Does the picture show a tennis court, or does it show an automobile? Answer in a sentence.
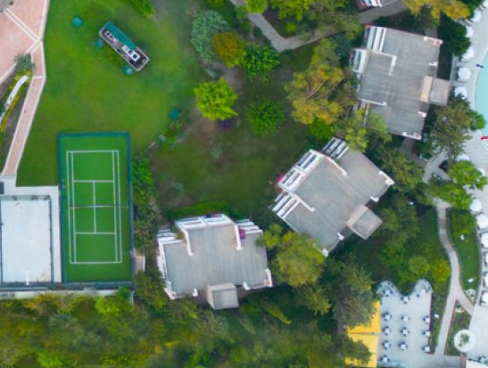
There is a tennis court in the scene.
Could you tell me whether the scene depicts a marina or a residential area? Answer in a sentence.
This looks like a residential area.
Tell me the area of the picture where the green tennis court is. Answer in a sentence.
Look in the left portion of the view to spot the green tennis court.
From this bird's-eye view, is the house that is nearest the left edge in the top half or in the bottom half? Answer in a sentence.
You can find the house that is nearest the left edge in the bottom half.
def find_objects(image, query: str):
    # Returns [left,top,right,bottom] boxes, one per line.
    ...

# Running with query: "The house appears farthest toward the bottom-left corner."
[159,208,269,311]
